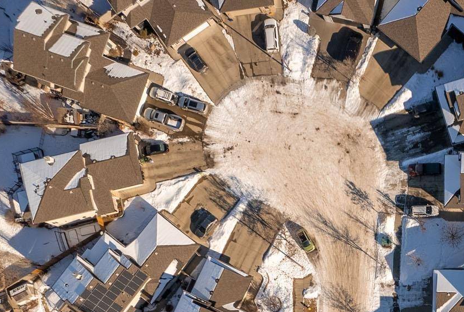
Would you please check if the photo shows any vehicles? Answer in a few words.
Yes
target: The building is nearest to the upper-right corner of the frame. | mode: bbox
[372,0,464,66]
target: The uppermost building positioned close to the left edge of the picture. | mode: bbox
[10,1,153,124]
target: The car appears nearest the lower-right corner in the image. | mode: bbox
[410,202,439,217]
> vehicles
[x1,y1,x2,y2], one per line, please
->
[343,28,361,60]
[141,104,186,133]
[177,94,207,114]
[189,209,217,234]
[142,138,169,155]
[408,160,441,177]
[148,85,178,108]
[183,44,209,73]
[260,16,279,53]
[410,202,439,217]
